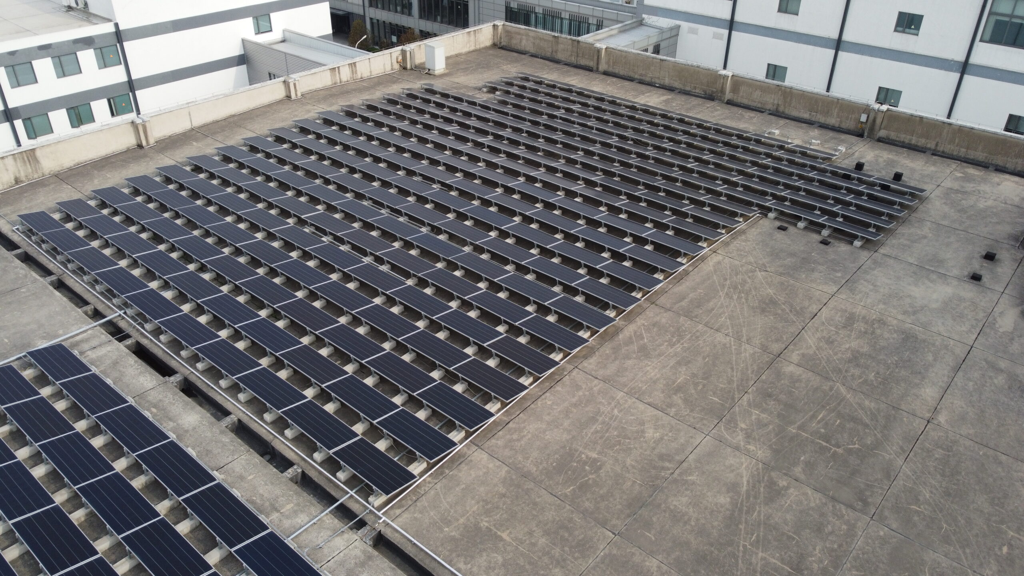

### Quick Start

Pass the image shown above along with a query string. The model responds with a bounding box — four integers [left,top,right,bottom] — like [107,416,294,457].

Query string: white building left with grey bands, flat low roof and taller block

[0,0,333,150]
